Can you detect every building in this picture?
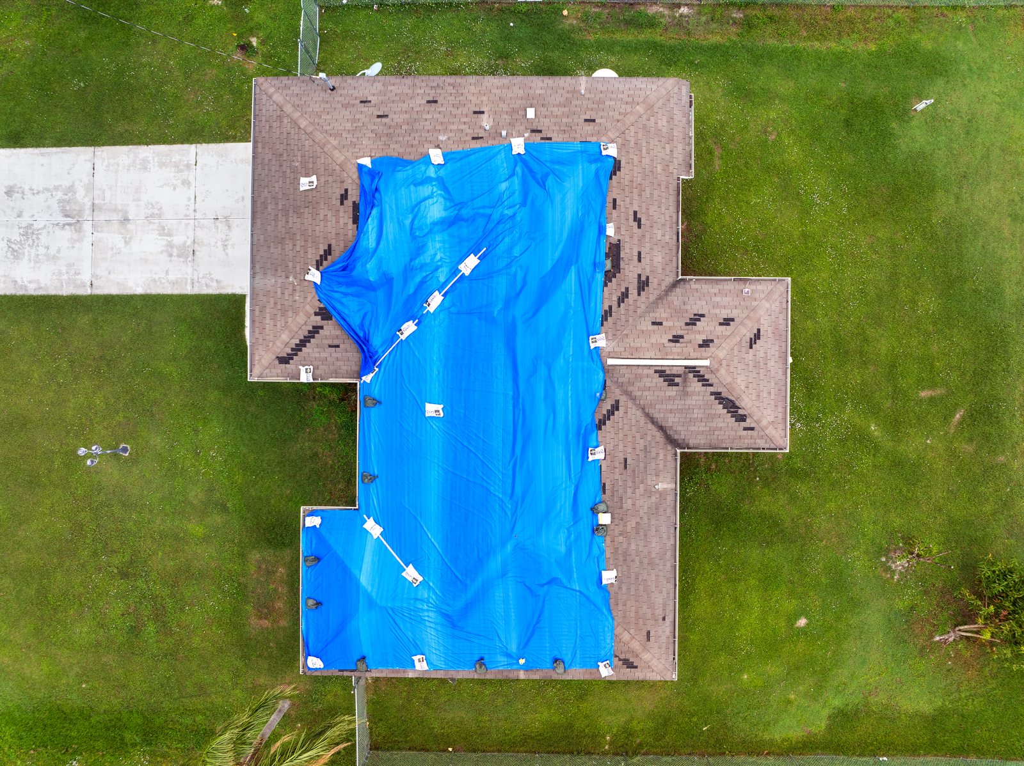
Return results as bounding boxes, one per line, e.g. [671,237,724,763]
[251,77,790,680]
